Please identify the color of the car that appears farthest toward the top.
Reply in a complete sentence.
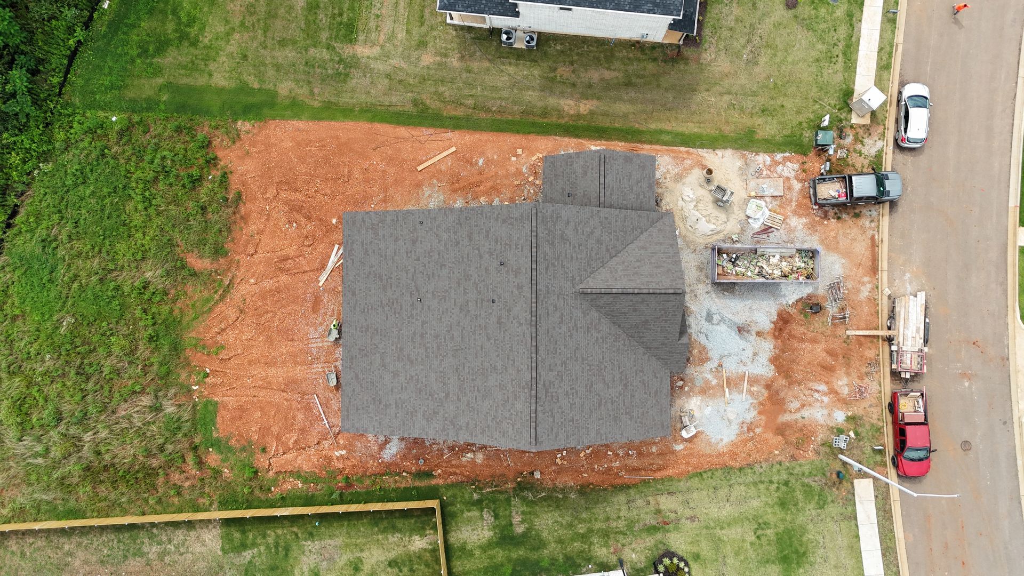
From above, the car that appears farthest toward the top appears white.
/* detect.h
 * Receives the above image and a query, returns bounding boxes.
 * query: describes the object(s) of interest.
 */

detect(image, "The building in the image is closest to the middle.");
[342,149,689,450]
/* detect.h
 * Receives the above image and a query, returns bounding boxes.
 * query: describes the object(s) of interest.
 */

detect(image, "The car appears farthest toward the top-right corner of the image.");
[895,85,935,148]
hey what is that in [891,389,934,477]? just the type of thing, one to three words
truck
